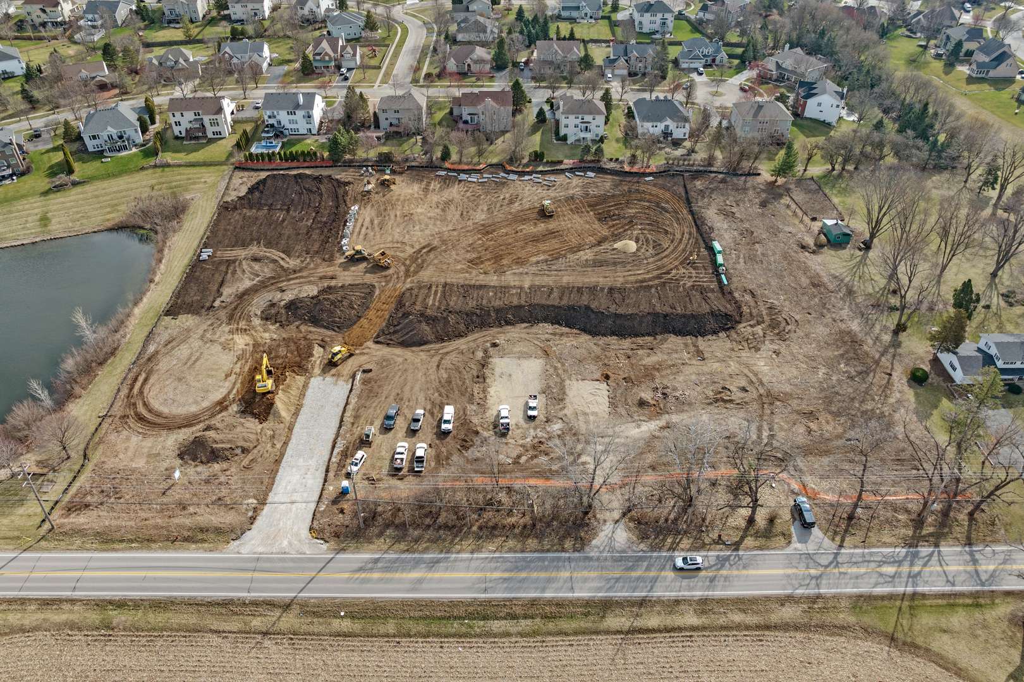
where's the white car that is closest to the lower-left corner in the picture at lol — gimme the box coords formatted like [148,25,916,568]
[346,450,366,474]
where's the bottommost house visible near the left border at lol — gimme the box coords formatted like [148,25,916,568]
[0,130,55,184]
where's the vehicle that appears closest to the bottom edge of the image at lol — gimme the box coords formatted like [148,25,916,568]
[673,553,704,569]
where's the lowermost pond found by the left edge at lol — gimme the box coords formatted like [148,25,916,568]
[0,227,156,418]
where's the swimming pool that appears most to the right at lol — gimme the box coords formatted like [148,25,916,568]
[248,137,283,154]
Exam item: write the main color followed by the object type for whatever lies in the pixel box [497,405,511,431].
white vehicle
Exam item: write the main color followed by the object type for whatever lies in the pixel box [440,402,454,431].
white vehicle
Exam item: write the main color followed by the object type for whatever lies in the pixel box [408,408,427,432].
gray vehicle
